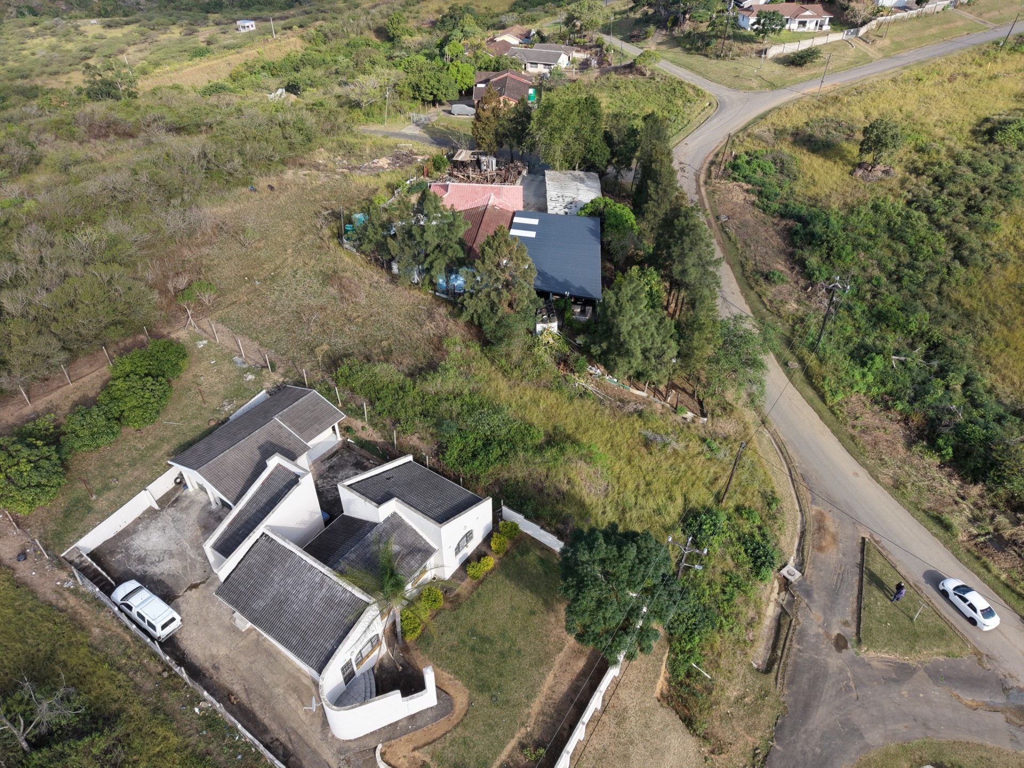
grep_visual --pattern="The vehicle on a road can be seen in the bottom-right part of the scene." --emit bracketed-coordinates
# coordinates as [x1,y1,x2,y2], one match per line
[937,576,1003,631]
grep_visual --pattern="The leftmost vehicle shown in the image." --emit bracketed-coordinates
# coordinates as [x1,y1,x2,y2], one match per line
[108,583,181,641]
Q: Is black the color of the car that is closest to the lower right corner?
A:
No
